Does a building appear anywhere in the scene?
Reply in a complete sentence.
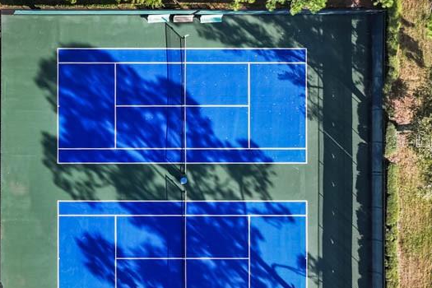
No, the scene contains no building.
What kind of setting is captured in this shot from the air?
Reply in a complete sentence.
The picture captures a sports ground.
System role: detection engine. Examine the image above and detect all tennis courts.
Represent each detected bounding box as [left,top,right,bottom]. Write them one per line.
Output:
[2,183,372,288]
[0,17,372,183]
